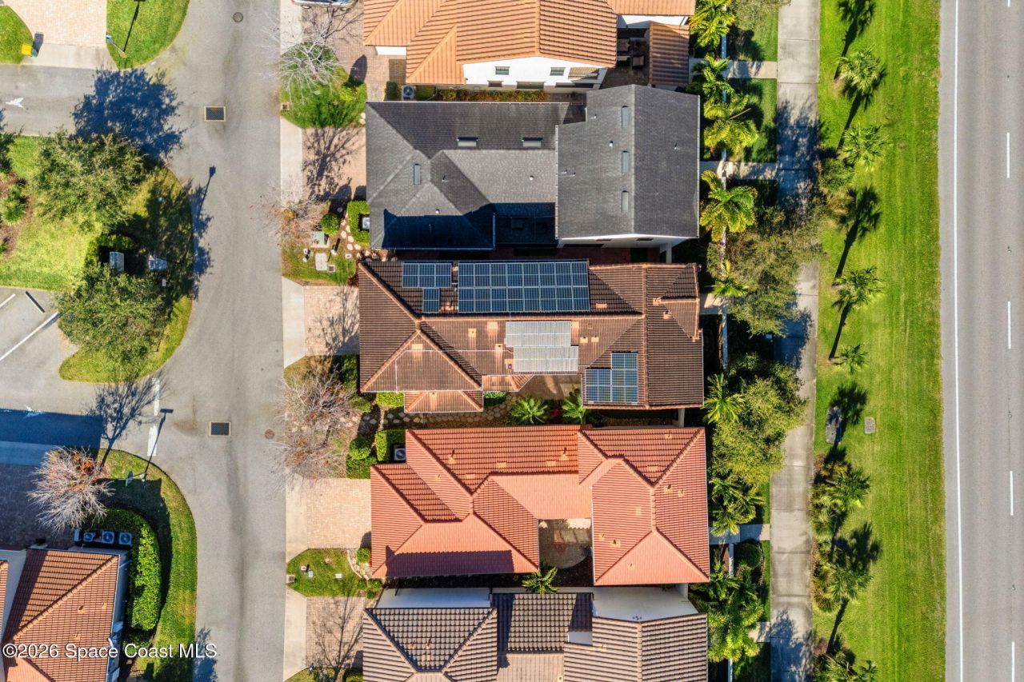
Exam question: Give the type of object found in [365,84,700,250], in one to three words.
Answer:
house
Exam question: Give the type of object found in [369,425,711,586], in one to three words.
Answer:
house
